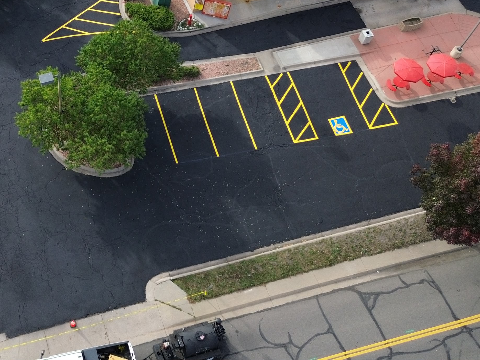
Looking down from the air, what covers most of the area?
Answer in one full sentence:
For the most part, this view shows paved ground.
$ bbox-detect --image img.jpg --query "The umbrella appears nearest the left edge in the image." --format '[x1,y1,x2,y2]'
[392,59,428,86]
